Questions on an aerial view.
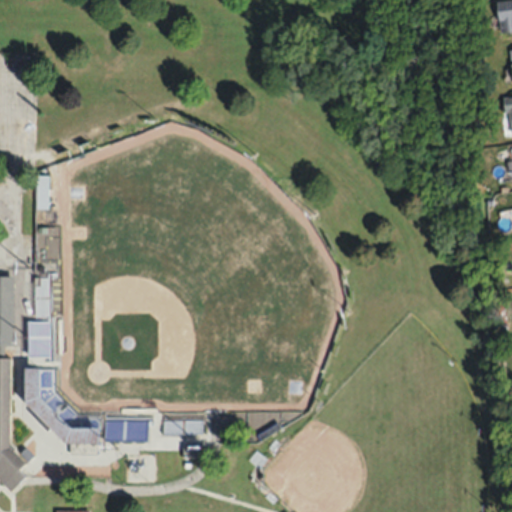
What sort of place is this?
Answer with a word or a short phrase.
sports ground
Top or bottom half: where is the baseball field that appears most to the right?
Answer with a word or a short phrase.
bottom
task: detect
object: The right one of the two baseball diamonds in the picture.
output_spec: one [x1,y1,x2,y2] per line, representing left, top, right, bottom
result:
[264,316,484,512]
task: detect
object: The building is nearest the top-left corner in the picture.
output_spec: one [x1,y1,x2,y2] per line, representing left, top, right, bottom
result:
[37,176,52,211]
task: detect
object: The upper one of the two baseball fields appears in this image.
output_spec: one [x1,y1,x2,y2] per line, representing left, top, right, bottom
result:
[52,122,346,412]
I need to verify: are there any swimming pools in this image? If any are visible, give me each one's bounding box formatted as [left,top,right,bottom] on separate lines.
[493,166,506,179]
[498,218,512,232]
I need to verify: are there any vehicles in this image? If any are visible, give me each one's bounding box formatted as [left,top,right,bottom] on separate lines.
[26,124,34,132]
[26,300,33,314]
